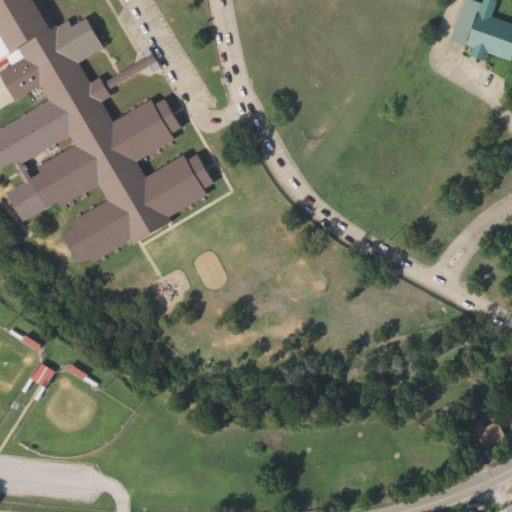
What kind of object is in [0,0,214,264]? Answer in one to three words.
building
